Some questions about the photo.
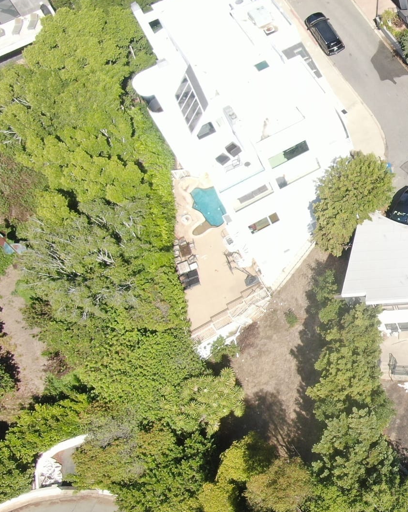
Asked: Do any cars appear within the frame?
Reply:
Yes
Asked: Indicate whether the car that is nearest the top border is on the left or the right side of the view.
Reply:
right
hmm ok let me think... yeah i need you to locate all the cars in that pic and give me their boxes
[306,14,342,53]
[383,180,408,225]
